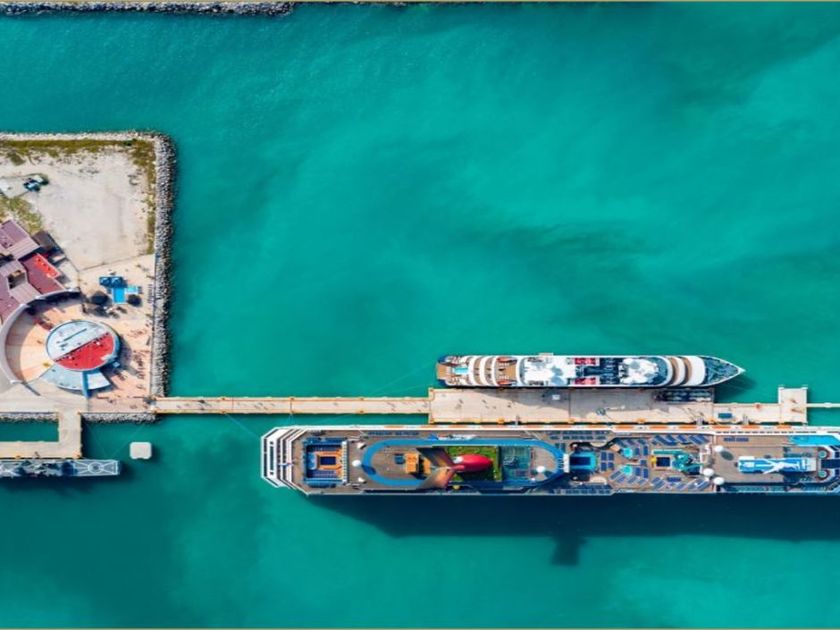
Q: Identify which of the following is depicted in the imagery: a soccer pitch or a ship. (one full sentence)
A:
The image shows a ship.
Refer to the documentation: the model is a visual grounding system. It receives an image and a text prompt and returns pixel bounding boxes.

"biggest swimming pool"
[113,286,126,304]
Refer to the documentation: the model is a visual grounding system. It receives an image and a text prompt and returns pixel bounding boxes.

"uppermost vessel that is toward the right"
[436,352,746,386]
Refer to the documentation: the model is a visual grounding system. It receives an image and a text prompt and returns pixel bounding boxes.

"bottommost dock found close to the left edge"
[0,412,84,458]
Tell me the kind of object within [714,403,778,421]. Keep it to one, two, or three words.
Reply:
pier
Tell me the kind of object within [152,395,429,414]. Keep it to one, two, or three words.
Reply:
pier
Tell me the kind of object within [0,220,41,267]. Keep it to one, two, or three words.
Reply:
building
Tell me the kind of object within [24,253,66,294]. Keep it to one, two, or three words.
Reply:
building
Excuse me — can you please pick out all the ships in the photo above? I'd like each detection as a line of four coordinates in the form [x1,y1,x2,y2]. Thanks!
[0,459,120,478]
[436,352,746,386]
[260,424,840,495]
